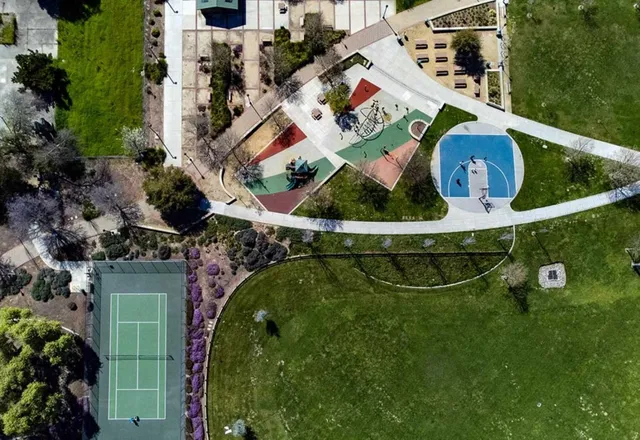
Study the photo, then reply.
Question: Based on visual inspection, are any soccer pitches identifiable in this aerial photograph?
No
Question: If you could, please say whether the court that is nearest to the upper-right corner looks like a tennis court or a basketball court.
basketball court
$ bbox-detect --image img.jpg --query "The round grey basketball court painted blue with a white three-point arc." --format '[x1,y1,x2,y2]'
[431,121,524,213]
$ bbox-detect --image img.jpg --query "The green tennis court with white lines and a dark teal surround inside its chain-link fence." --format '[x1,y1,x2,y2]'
[88,262,186,440]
